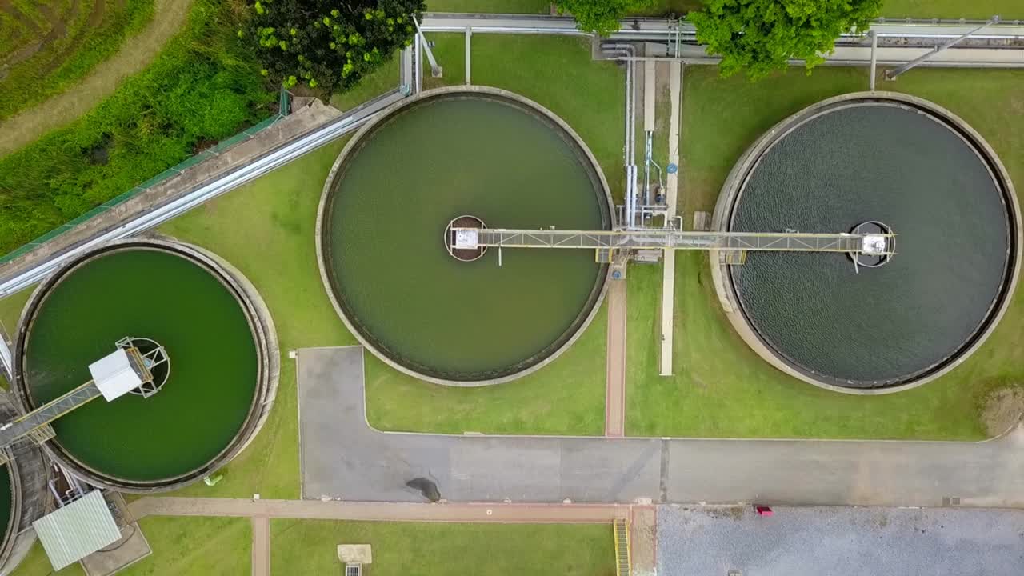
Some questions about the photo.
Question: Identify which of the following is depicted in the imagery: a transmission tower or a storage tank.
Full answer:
The one in the frame is a storage tank.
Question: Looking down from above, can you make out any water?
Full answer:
Yes, water can be seen from above here.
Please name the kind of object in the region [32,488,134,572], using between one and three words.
shed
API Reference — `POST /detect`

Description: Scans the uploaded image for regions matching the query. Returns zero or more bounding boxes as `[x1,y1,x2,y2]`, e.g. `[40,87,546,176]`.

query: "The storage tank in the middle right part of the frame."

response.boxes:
[711,92,1022,393]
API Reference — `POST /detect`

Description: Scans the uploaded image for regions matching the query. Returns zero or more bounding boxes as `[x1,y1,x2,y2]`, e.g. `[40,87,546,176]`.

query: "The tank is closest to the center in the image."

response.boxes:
[316,86,615,386]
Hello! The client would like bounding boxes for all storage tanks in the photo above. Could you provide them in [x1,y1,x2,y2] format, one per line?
[16,239,279,490]
[711,92,1022,393]
[0,399,45,576]
[316,86,615,386]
